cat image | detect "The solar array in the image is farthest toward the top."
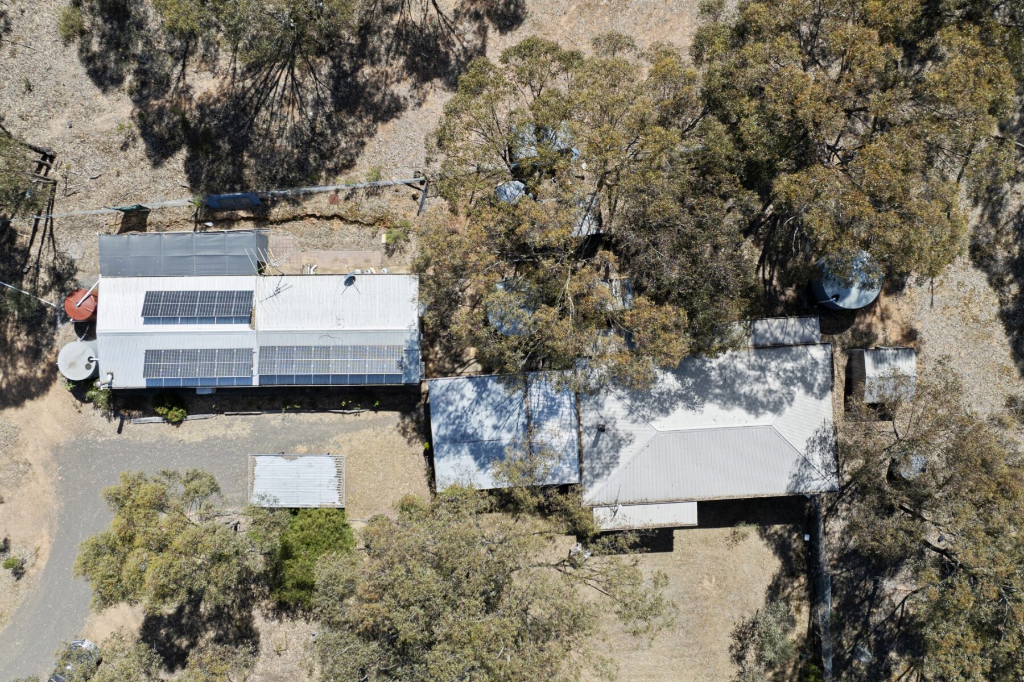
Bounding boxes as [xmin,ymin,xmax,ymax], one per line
[141,291,254,316]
